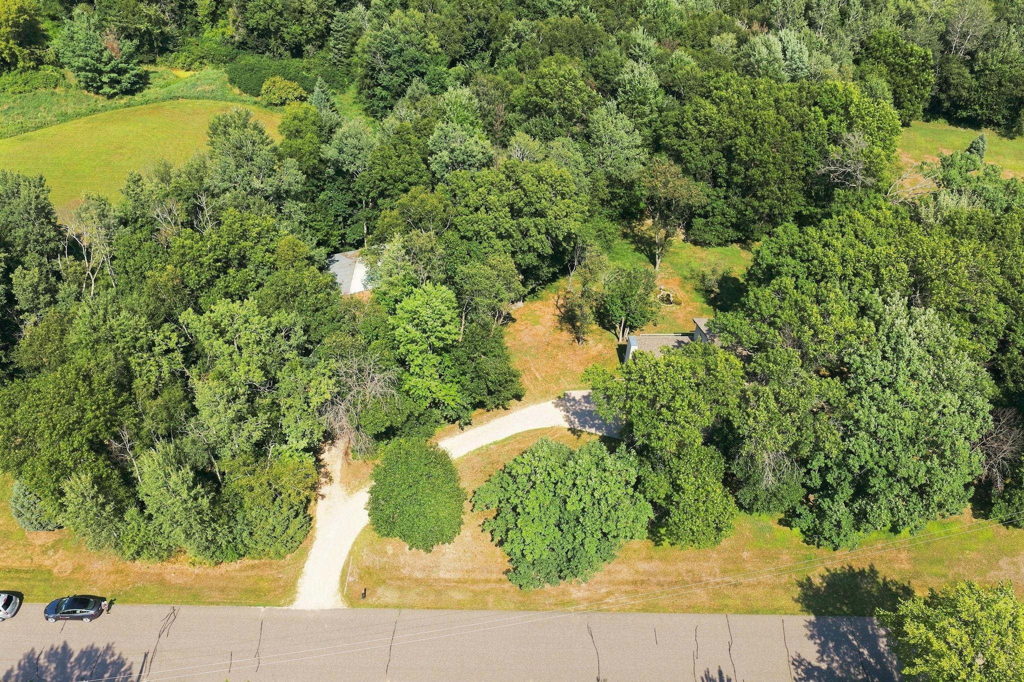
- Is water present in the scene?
No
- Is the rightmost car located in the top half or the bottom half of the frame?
bottom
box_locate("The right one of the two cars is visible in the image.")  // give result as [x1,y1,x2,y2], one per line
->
[43,593,104,624]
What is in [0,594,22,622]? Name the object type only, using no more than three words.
car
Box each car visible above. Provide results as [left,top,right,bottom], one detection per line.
[0,594,22,622]
[43,593,104,624]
